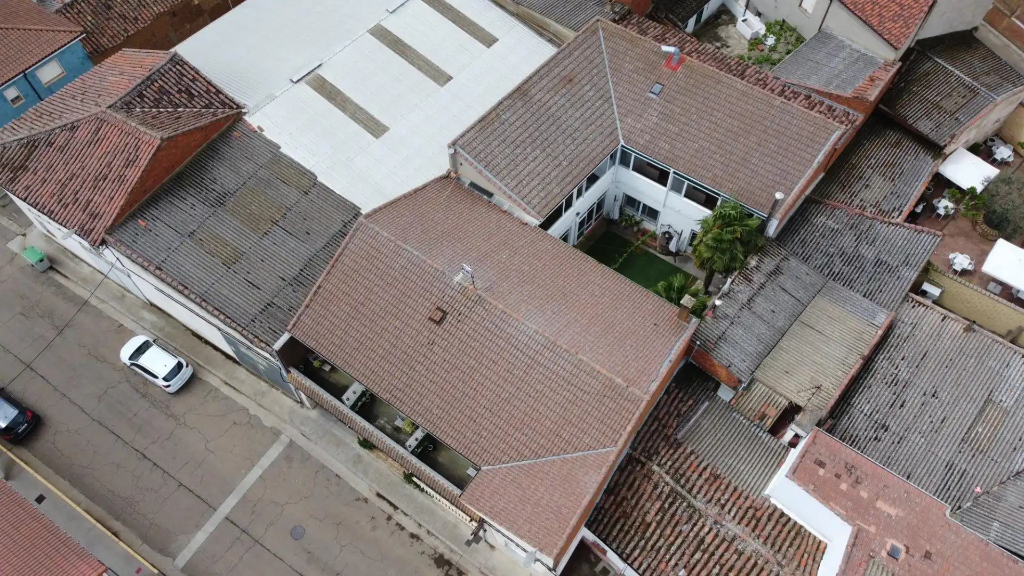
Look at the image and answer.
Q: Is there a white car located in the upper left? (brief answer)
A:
No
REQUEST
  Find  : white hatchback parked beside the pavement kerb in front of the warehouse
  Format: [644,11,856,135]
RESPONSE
[120,335,192,392]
